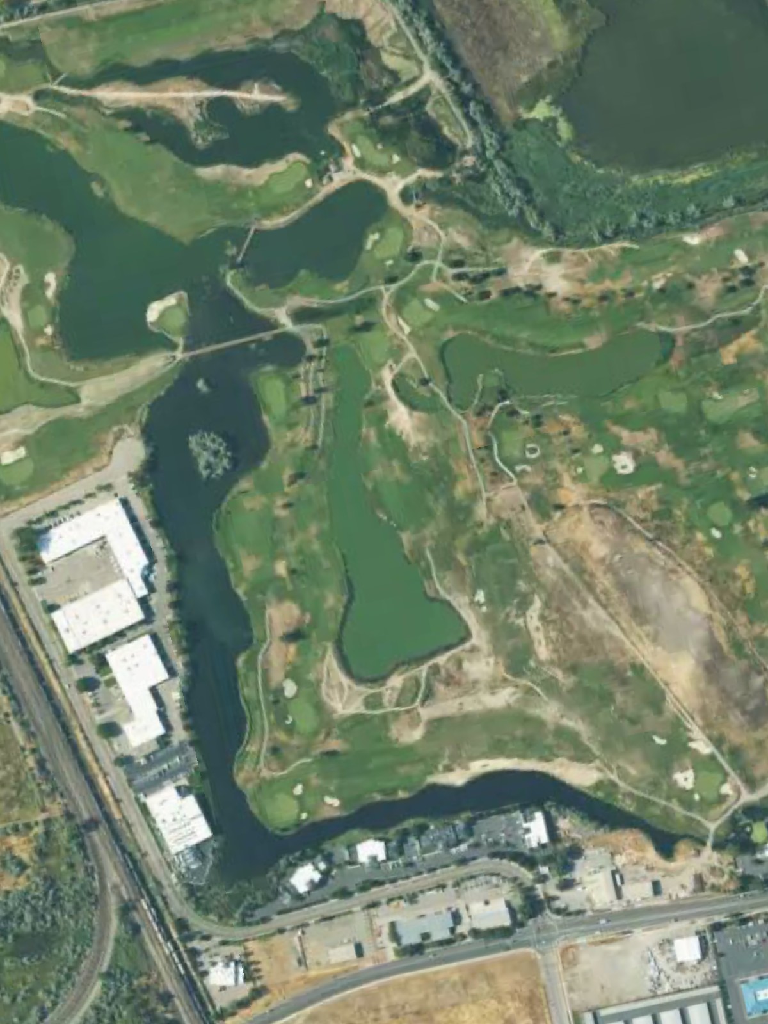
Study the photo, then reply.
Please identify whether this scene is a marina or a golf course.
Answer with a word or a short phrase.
golf course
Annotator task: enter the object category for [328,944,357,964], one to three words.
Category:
shed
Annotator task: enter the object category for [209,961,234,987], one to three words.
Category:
building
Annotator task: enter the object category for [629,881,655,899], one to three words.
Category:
shed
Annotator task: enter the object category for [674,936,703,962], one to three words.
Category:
building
